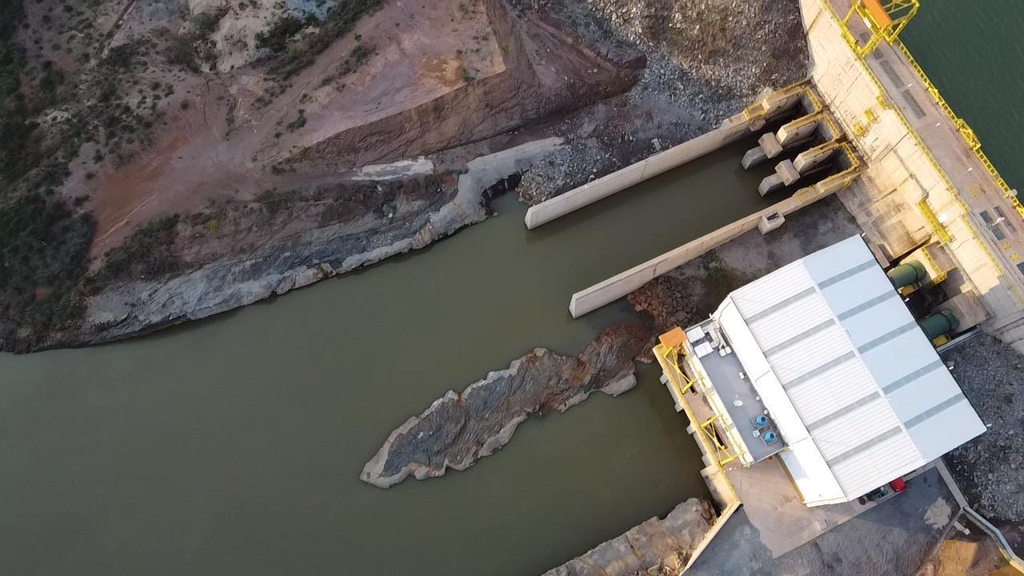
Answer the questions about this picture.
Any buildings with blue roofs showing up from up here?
No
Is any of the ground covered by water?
Yes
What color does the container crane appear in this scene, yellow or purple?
yellow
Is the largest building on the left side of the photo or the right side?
right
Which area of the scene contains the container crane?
top right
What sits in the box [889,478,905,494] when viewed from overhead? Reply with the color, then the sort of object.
red car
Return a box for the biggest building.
[715,233,987,506]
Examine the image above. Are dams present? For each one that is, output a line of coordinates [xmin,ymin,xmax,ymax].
[731,0,1024,438]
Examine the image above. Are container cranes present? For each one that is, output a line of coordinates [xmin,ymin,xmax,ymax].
[841,0,924,58]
